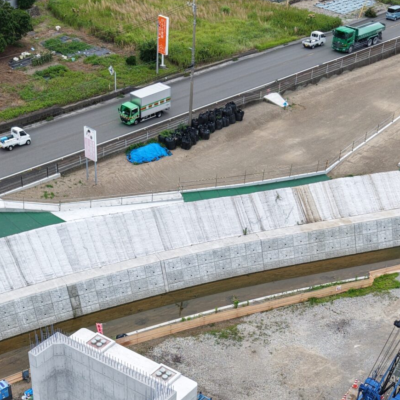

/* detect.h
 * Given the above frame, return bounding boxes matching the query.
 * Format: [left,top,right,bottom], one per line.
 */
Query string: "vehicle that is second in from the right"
[331,21,383,54]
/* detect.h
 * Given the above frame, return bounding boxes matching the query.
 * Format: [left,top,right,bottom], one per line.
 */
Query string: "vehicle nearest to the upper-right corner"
[386,5,400,21]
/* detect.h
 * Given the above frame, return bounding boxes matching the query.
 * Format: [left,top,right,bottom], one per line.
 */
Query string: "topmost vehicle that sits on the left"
[114,82,168,126]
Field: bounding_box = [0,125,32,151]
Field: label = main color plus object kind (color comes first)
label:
white truck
